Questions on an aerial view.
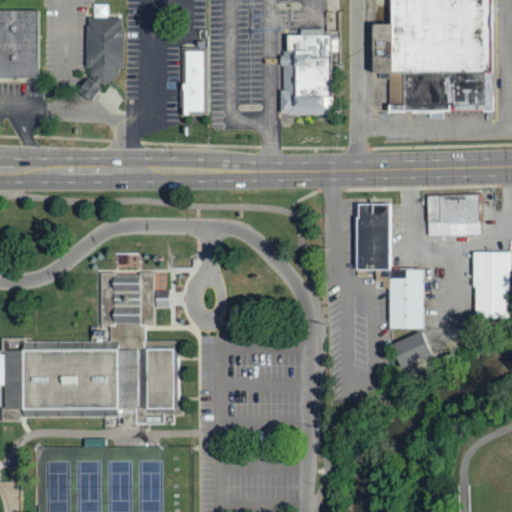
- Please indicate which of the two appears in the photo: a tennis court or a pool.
tennis court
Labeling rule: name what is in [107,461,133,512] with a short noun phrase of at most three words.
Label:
tennis court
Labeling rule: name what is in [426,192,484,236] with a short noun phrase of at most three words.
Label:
building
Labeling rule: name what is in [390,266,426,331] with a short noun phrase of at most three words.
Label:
building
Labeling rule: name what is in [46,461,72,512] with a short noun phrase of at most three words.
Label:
tennis court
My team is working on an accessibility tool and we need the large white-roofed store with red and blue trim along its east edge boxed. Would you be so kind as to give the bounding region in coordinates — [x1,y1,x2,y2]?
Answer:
[373,0,494,118]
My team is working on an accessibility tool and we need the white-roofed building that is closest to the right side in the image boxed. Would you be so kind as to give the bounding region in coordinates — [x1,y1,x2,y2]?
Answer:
[472,250,512,319]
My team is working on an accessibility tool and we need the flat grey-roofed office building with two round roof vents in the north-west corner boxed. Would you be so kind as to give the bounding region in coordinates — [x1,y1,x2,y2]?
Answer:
[0,11,41,80]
